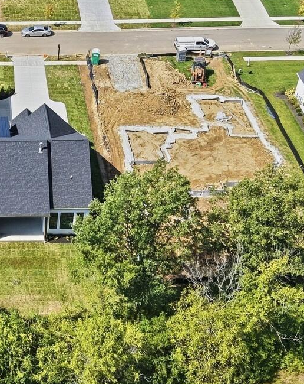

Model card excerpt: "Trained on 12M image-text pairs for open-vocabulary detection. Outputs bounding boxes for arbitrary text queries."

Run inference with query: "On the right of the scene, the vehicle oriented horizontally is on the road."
[176,36,218,50]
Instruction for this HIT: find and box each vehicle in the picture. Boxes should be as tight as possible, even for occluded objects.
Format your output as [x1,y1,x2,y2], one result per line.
[190,57,211,88]
[22,25,54,38]
[0,23,9,37]
[176,36,218,50]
